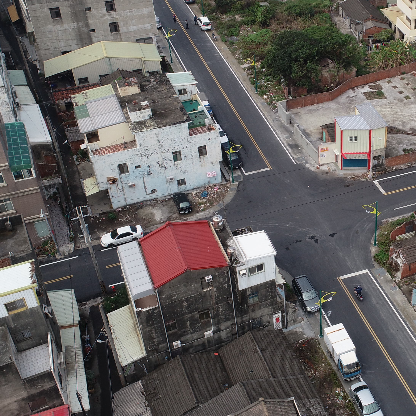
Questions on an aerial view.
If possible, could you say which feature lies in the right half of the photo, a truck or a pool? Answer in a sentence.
The feature located in the right half of the photo is a truck.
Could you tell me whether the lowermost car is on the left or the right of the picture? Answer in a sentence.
The lowermost car appears in the right half of the scene.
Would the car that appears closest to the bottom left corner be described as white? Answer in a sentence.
Yes, the car that appears closest to the bottom left corner is white.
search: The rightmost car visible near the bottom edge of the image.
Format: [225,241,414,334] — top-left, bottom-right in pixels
[350,379,383,416]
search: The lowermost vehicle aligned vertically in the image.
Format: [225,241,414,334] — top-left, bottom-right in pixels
[321,309,359,379]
